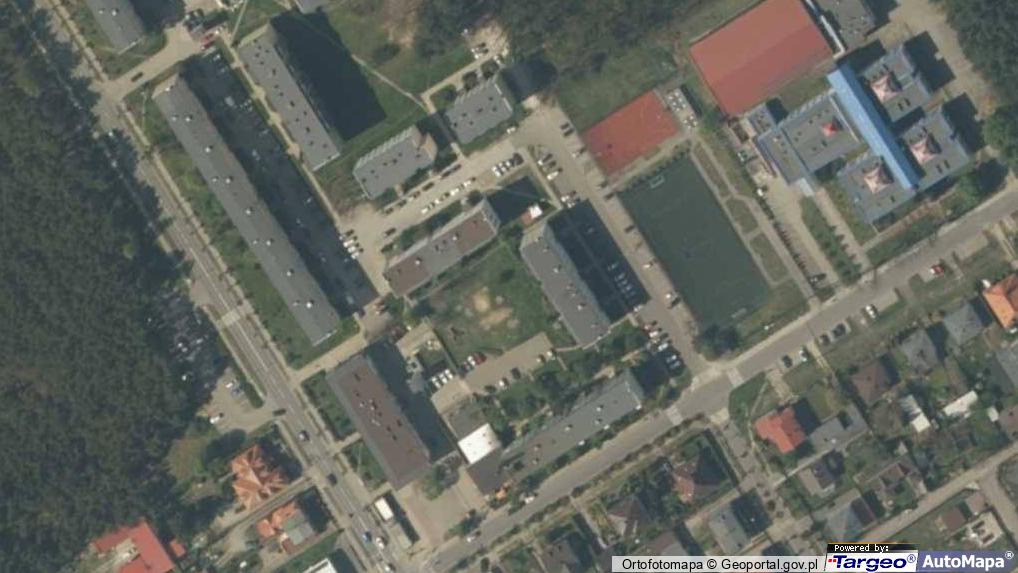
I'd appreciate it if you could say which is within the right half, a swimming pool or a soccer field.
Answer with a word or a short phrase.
soccer field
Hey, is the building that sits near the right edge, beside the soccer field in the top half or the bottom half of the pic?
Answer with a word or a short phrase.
top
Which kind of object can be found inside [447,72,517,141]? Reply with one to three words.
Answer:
building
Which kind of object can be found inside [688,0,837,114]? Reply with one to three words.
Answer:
sports court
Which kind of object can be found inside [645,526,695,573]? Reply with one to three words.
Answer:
house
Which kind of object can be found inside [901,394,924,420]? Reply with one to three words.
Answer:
shed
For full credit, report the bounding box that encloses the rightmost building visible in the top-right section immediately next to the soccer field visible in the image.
[749,40,972,222]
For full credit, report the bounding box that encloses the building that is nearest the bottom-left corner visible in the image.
[92,518,175,573]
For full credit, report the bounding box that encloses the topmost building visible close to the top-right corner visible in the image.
[818,0,878,45]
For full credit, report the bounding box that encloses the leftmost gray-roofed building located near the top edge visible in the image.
[85,0,149,52]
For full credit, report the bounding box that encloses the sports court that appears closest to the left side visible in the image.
[582,90,681,177]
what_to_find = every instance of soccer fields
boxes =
[620,148,777,334]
